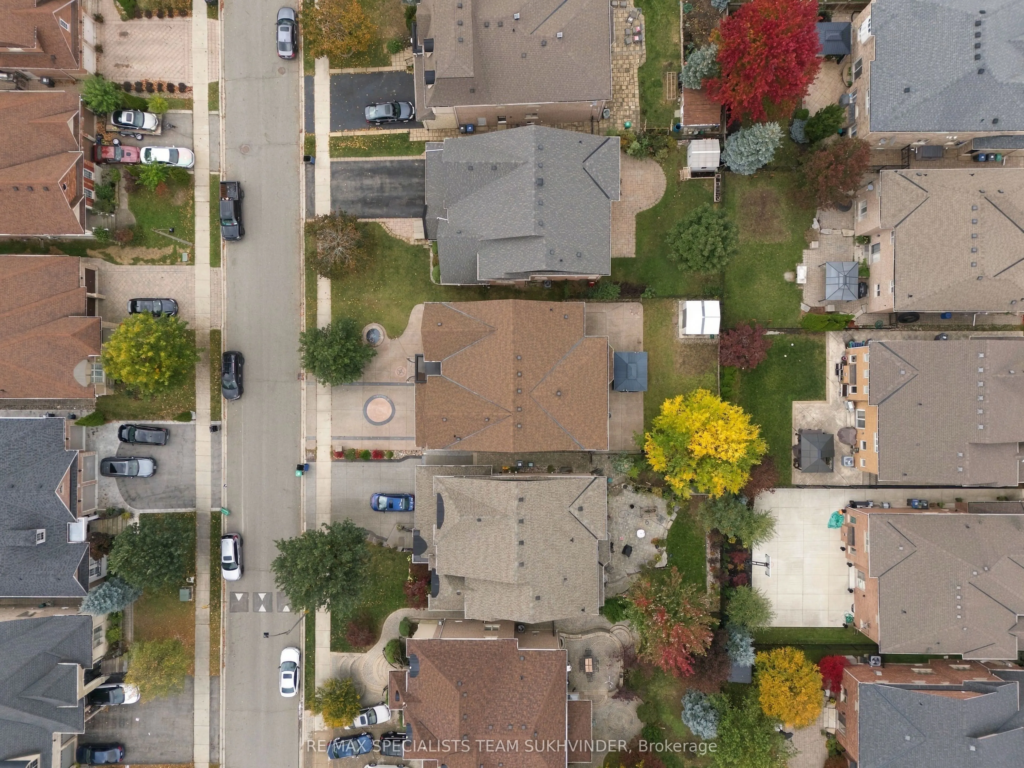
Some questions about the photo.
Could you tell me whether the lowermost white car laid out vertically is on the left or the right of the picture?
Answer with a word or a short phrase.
left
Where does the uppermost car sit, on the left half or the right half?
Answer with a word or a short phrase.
left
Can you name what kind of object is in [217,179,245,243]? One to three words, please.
truck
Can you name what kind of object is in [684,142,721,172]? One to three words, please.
greenhouse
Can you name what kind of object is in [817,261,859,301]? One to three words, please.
gazebo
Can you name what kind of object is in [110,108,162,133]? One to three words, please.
car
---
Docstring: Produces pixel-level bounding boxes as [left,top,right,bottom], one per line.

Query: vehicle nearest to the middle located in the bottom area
[371,492,415,514]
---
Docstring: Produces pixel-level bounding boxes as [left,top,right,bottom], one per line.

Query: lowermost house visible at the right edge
[824,661,1024,768]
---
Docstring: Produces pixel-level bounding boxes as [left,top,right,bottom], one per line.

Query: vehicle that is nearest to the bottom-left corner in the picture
[77,739,127,767]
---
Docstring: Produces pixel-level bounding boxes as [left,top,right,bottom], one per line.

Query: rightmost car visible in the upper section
[364,99,416,125]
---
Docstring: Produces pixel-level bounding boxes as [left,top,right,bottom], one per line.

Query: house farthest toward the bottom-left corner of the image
[0,608,124,768]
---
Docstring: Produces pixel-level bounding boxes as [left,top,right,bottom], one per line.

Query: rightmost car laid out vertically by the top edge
[274,8,299,61]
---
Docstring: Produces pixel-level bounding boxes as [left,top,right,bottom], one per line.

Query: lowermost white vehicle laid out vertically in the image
[277,645,302,697]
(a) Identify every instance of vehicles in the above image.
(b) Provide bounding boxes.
[219,351,246,400]
[345,698,396,733]
[375,730,402,758]
[126,295,180,318]
[118,422,172,446]
[93,141,142,166]
[88,681,140,708]
[371,492,415,514]
[217,179,245,243]
[110,108,162,133]
[100,455,159,479]
[141,144,196,169]
[324,729,376,760]
[77,739,127,767]
[219,531,245,581]
[274,8,299,61]
[277,645,302,697]
[364,99,416,125]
